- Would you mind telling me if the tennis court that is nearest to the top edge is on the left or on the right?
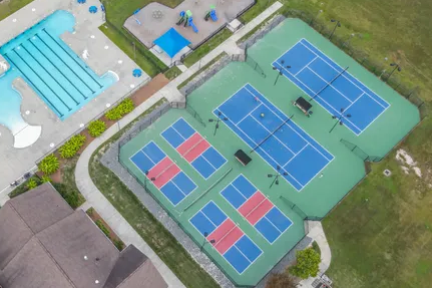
right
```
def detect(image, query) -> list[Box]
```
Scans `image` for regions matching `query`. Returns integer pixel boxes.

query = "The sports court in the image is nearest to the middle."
[161,117,228,179]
